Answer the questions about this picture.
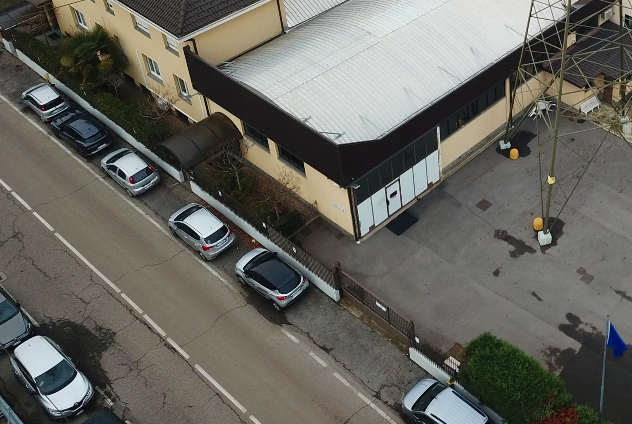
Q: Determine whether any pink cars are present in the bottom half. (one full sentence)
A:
No, no pink car appears in the bottom half.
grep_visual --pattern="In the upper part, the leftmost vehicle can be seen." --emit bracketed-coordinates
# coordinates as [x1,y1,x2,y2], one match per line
[21,80,74,122]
